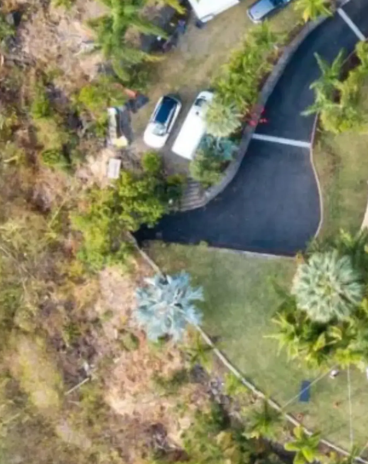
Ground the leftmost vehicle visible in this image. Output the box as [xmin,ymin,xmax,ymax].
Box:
[145,91,185,151]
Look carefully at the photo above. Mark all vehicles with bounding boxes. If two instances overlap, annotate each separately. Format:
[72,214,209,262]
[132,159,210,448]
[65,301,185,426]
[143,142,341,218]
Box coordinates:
[242,0,295,27]
[169,88,222,163]
[184,0,253,25]
[145,91,185,151]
